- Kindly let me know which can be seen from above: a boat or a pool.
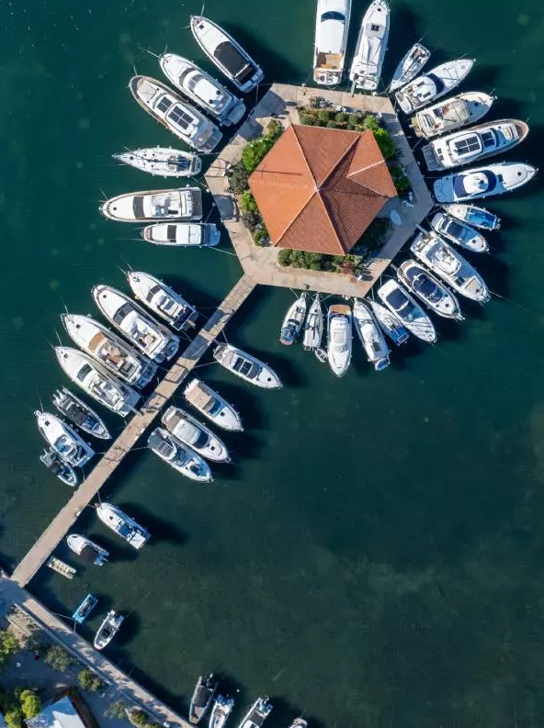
boat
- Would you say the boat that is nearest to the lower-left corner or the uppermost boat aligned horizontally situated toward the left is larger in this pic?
the uppermost boat aligned horizontally situated toward the left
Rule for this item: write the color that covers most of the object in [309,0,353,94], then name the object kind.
white boat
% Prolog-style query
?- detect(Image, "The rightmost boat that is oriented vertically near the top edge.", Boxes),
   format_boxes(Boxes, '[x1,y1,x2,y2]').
[346,0,391,100]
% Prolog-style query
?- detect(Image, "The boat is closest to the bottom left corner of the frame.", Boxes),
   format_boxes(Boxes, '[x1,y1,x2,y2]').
[93,608,122,649]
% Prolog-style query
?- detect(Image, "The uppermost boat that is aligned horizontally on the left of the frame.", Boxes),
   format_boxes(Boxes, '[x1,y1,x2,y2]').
[112,145,227,178]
